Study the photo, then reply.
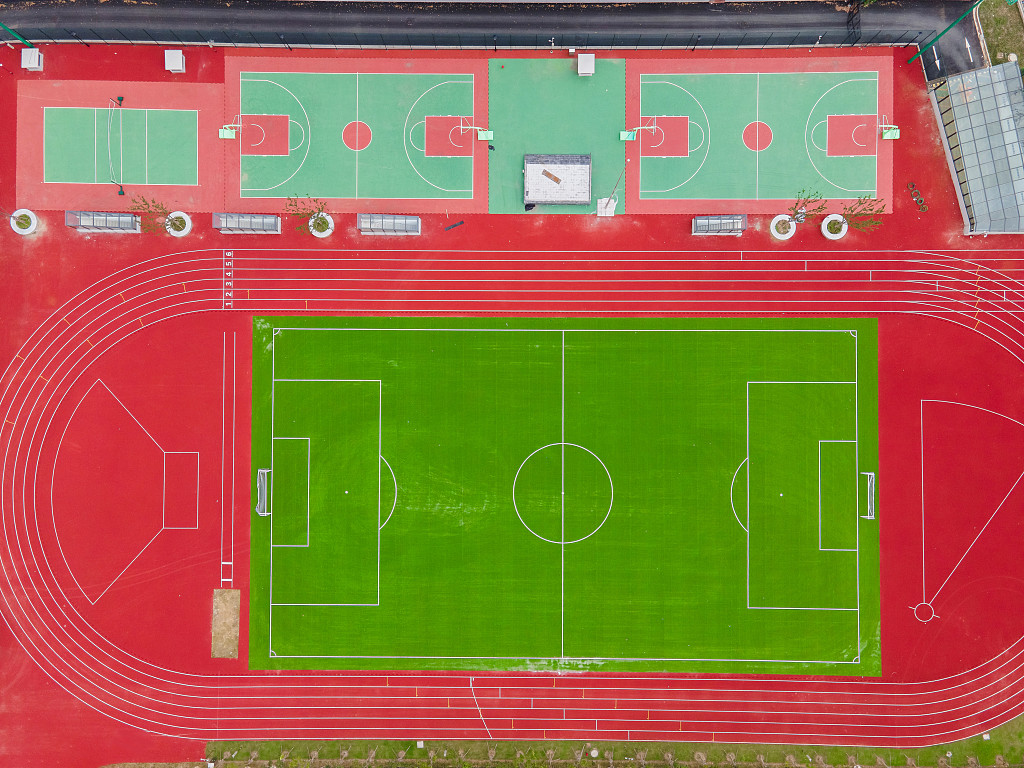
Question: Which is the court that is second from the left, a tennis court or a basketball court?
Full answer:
What you see as the court that is second from the left is a basketball court.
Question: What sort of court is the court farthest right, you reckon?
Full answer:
It turns out the court farthest right is a basketball court.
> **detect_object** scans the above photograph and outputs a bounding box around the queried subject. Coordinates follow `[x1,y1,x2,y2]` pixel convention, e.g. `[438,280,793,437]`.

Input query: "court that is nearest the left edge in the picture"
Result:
[17,79,224,213]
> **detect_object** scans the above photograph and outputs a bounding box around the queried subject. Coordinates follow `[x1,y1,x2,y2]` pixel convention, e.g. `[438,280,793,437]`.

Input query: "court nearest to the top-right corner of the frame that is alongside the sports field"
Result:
[625,56,894,214]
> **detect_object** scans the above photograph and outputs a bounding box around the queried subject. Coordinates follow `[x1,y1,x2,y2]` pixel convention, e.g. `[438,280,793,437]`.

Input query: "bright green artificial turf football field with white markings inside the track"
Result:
[249,316,882,677]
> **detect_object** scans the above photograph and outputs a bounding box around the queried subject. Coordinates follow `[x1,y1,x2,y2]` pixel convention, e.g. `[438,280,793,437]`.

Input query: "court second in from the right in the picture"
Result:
[224,56,489,214]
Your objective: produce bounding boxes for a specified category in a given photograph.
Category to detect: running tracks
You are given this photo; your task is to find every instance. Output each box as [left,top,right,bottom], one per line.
[0,249,1024,748]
